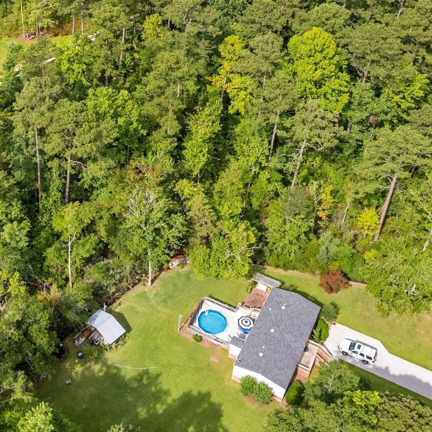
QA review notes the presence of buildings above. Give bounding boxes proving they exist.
[82,309,128,355]
[230,287,321,403]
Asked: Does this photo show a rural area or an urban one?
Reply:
rural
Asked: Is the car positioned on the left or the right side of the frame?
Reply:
right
